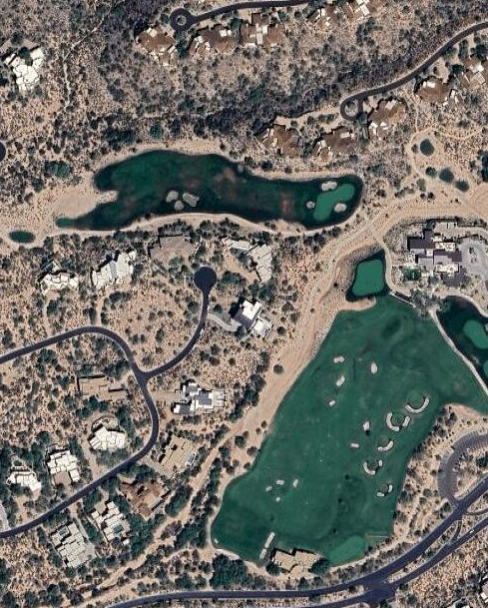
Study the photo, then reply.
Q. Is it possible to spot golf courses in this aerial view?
Yes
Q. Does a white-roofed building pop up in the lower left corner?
Yes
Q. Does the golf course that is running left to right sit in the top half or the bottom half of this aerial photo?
top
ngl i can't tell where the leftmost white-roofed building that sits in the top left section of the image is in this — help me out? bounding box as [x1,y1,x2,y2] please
[3,39,42,86]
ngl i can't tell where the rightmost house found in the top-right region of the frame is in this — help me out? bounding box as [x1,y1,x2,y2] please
[456,54,488,88]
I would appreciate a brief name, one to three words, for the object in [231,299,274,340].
house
